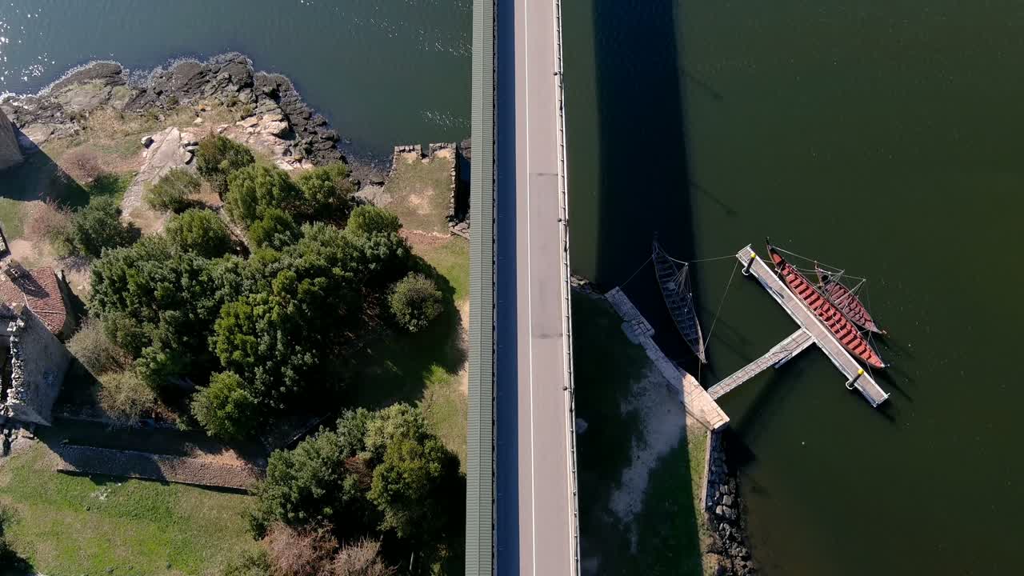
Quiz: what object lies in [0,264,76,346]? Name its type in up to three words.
building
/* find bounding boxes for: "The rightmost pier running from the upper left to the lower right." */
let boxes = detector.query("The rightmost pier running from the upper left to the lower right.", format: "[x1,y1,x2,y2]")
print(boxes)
[734,241,892,408]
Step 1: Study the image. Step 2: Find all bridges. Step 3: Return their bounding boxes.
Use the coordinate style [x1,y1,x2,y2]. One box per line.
[466,0,580,576]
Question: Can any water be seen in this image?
Yes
